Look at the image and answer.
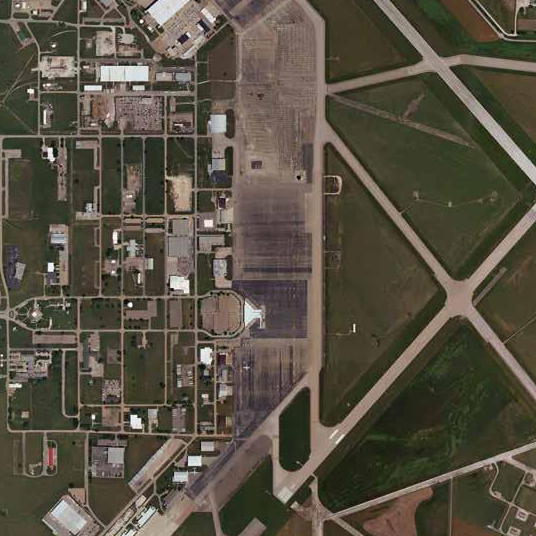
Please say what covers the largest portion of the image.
grass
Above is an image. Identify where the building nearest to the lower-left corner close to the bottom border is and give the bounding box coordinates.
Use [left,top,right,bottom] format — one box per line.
[51,500,86,533]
